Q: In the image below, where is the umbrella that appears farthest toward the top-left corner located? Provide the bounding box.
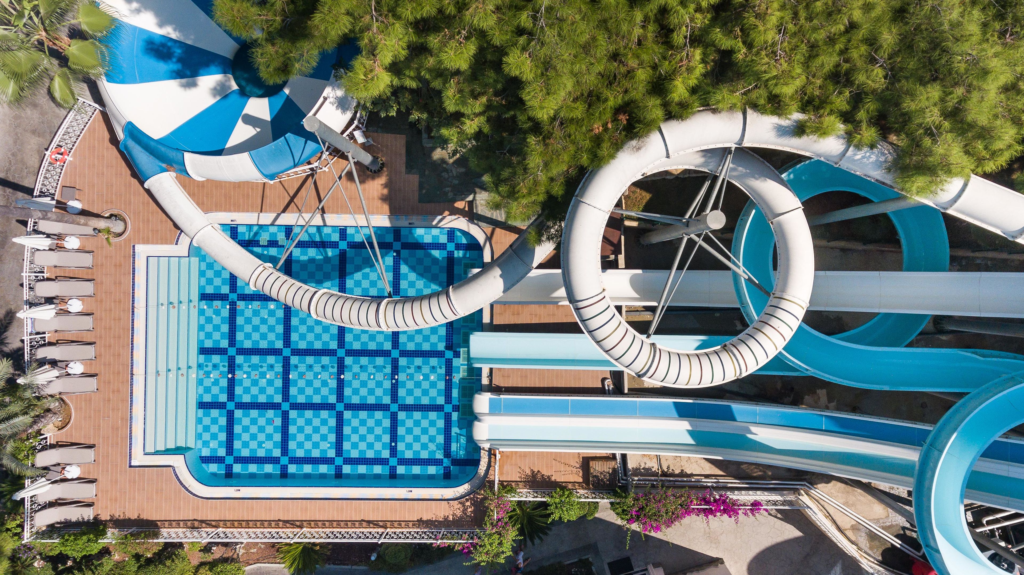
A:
[14,197,82,214]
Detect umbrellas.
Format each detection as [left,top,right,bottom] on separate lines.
[14,197,82,214]
[10,466,80,500]
[14,299,83,317]
[10,234,80,249]
[15,363,83,383]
